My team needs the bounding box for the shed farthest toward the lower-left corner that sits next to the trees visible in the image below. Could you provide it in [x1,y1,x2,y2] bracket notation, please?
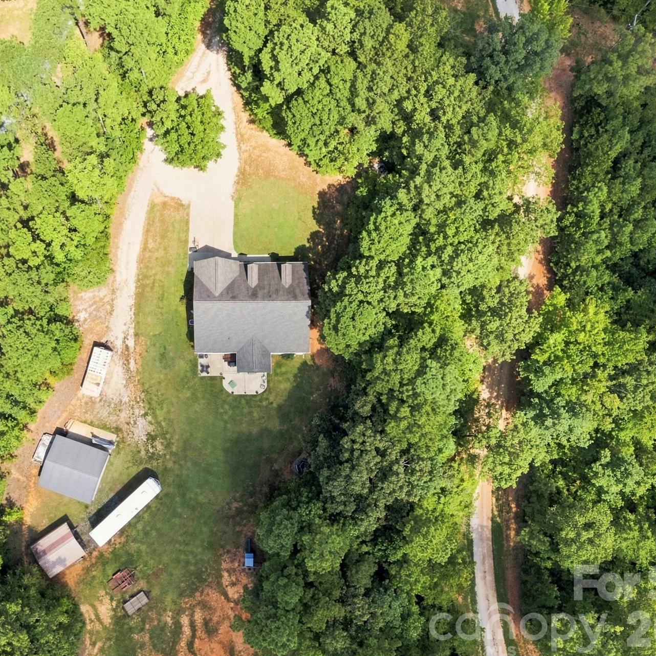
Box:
[31,520,87,577]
